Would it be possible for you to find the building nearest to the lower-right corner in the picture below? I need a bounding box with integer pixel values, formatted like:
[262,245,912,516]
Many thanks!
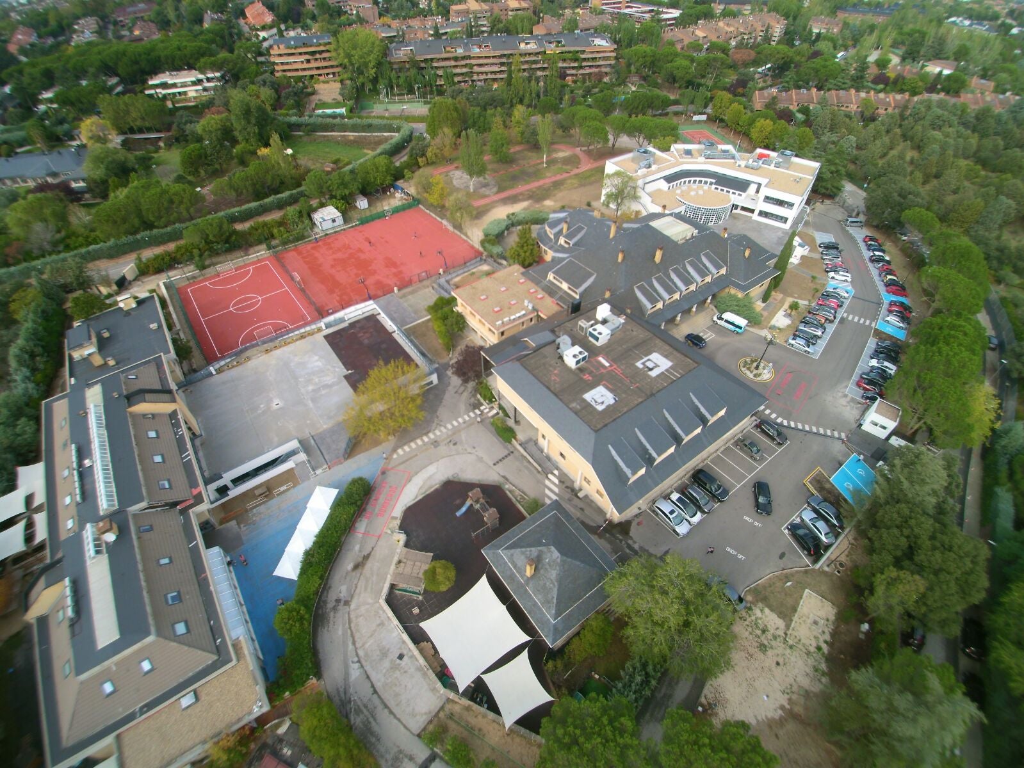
[861,398,898,435]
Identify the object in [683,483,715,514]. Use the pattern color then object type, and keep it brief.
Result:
gray car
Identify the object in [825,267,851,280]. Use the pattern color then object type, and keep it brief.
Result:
white vehicle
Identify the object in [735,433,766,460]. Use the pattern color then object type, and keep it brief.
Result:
gray car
